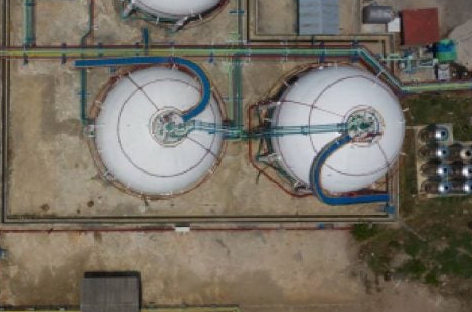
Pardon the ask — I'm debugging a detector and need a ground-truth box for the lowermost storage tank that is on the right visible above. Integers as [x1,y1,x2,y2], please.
[245,61,410,208]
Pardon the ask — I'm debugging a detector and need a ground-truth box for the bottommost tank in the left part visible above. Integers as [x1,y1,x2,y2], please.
[74,55,247,201]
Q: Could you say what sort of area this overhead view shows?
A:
industrial area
